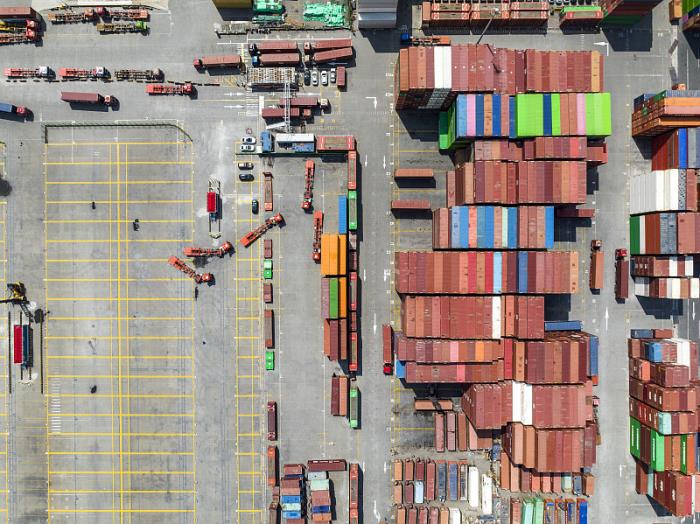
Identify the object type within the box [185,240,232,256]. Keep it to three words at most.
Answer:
vehicle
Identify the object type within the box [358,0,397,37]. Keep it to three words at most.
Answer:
shed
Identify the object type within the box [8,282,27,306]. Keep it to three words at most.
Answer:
work vehicle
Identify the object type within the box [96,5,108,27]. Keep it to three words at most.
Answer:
vehicle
